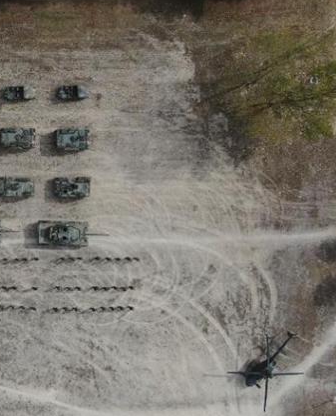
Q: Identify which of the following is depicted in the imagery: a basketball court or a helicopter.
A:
helicopter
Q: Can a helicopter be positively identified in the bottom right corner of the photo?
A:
Yes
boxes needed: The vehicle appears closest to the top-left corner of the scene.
[1,87,34,101]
